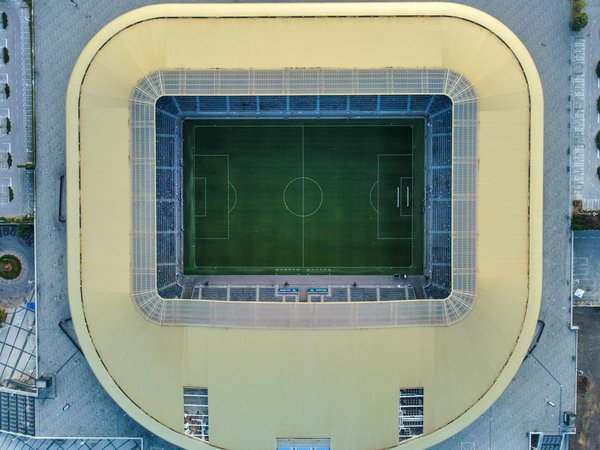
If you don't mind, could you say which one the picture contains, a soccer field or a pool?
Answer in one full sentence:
The image shows a soccer field.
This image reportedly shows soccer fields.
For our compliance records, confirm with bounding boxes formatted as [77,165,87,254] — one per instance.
[183,119,424,275]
